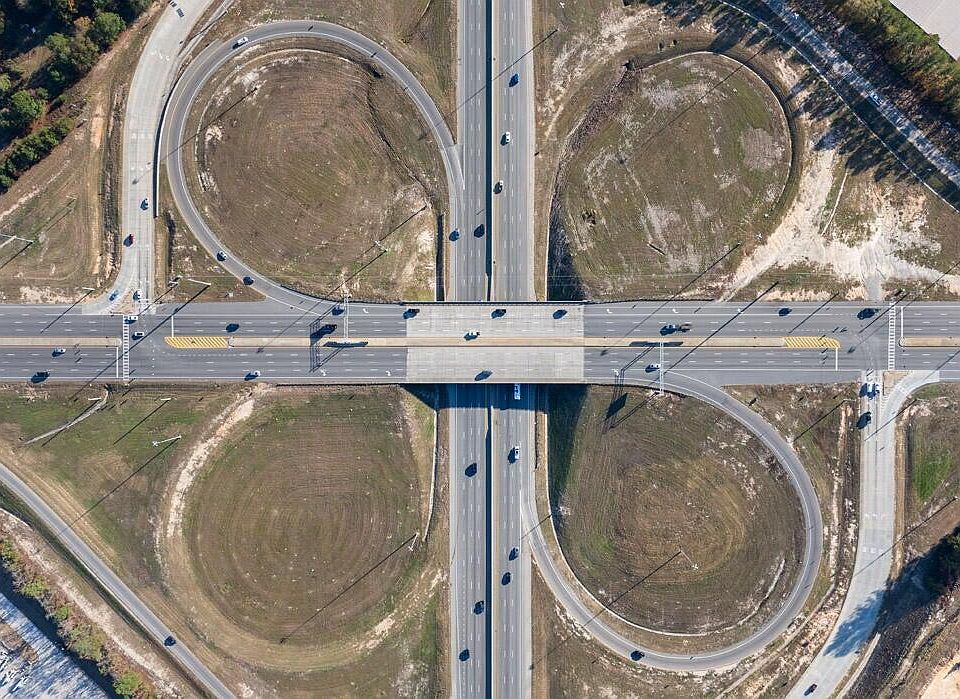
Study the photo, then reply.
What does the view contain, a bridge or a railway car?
bridge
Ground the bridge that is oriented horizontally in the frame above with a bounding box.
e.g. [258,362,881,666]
[403,301,587,384]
